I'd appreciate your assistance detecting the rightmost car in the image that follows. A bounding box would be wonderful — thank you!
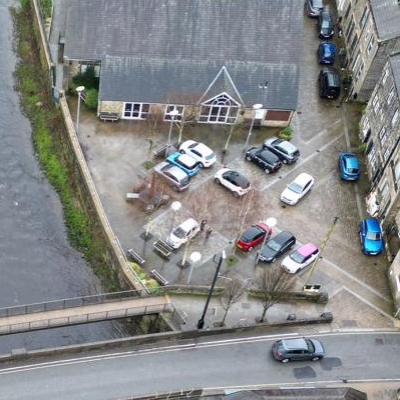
[358,213,389,252]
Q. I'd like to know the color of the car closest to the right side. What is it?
blue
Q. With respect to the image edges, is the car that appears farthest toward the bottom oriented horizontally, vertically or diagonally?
horizontally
